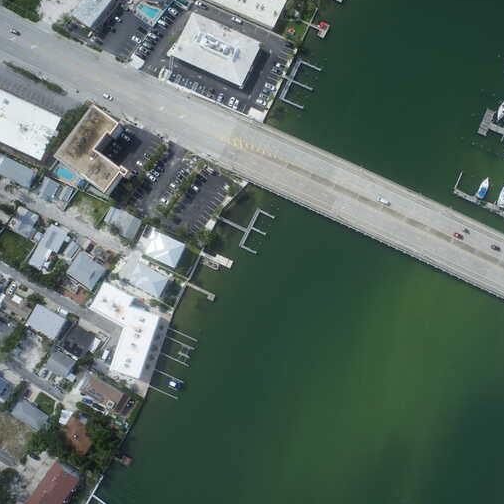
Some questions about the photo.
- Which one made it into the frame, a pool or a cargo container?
pool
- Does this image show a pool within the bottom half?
No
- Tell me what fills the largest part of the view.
water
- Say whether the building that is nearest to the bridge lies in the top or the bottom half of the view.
top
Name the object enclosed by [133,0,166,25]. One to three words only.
swimming pool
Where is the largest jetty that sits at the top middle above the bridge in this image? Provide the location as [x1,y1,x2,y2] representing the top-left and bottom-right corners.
[279,58,321,110]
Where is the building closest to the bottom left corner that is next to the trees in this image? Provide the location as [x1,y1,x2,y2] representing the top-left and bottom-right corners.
[28,460,80,504]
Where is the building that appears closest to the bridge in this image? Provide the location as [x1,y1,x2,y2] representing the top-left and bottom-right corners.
[167,12,260,88]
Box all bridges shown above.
[211,109,504,297]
